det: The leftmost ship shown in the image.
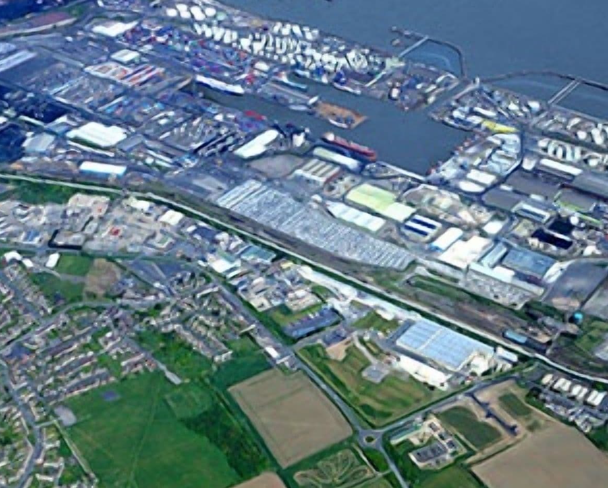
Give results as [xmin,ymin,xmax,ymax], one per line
[192,74,244,94]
